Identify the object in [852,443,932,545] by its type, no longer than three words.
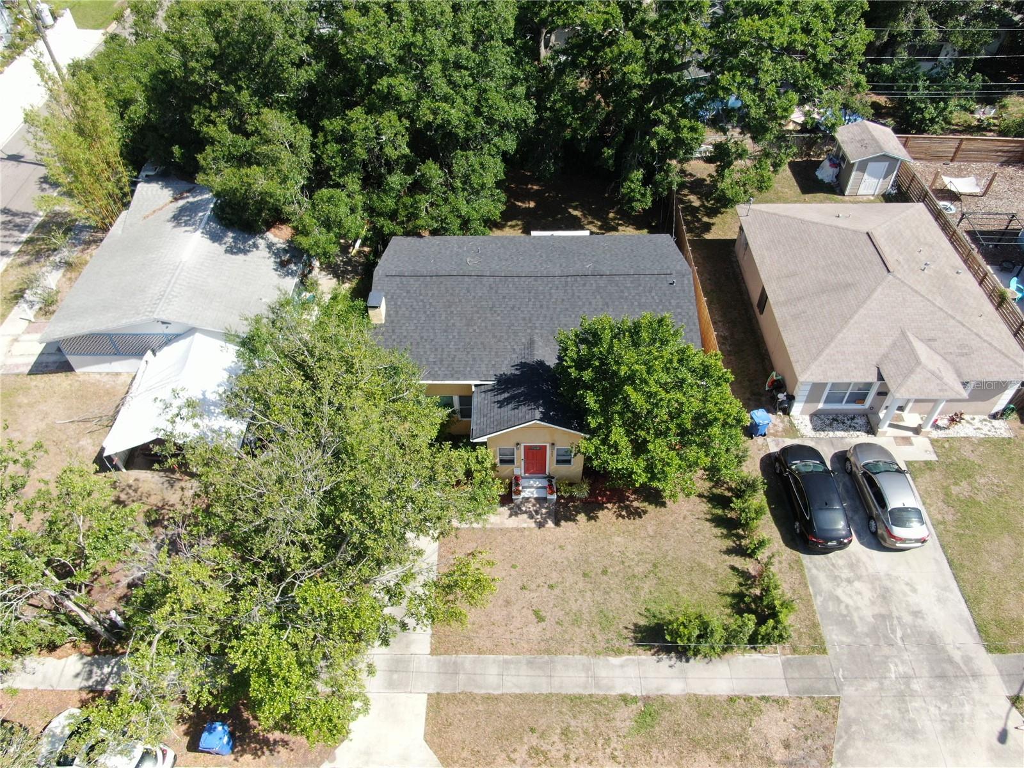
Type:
car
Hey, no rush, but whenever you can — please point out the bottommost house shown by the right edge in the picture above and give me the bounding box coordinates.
[736,196,1024,438]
